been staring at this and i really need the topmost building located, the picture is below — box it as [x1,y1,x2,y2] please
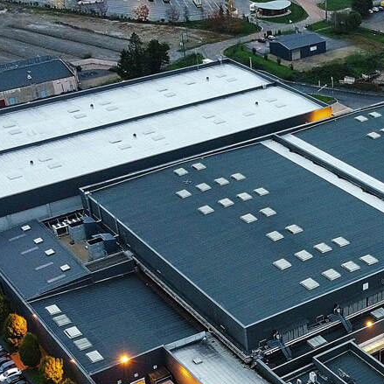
[248,2,295,20]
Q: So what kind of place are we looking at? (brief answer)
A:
industrial area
